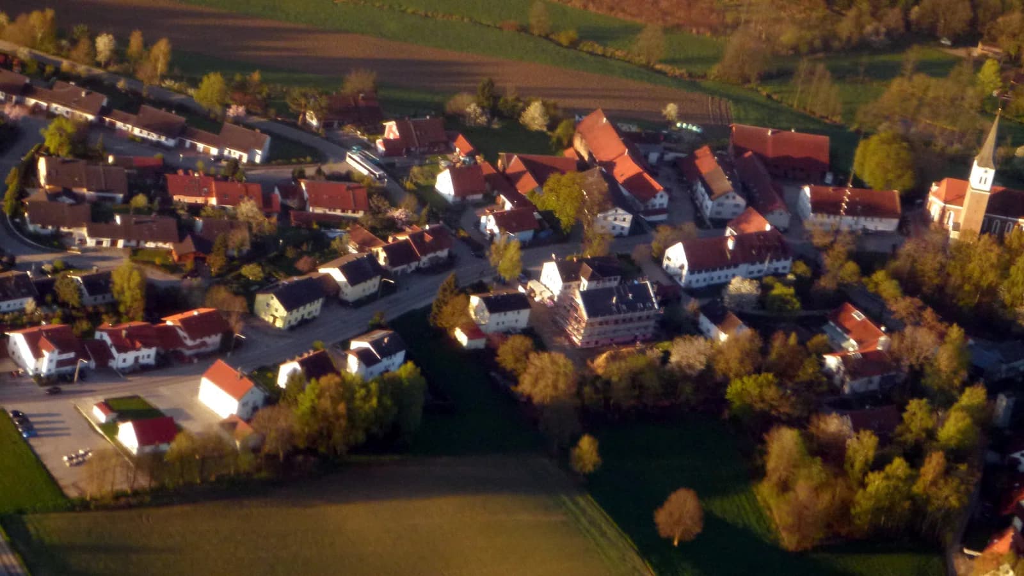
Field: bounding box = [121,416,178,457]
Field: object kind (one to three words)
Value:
building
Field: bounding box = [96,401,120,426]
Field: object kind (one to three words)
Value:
shed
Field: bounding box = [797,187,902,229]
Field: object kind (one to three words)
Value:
house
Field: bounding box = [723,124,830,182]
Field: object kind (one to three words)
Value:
barn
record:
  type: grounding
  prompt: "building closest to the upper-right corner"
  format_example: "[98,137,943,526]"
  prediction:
[979,43,1003,62]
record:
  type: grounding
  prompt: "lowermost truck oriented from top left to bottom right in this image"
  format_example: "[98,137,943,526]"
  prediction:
[528,277,556,303]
